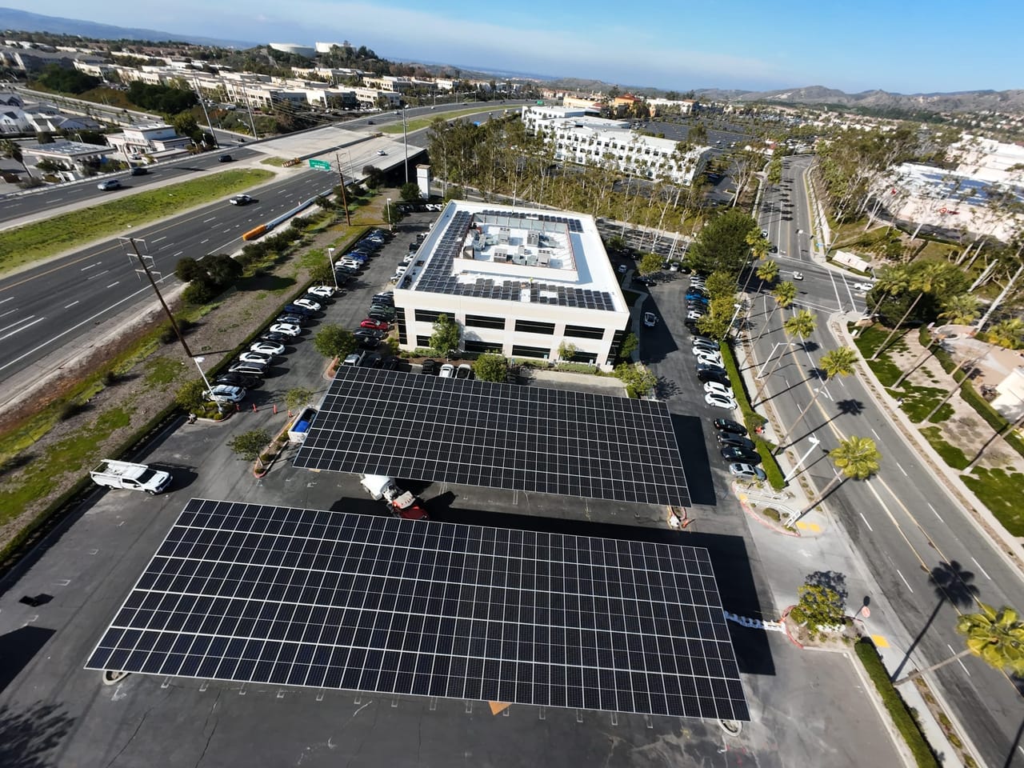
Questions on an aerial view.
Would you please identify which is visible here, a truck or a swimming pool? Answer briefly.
truck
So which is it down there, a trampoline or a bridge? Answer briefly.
bridge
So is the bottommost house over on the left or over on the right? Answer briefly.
right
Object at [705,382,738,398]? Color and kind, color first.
white car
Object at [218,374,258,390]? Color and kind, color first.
black car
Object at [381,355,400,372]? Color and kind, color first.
black car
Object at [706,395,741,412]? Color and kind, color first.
white car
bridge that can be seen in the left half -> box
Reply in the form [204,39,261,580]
[252,120,426,181]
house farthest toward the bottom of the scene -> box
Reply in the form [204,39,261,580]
[985,370,1024,418]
